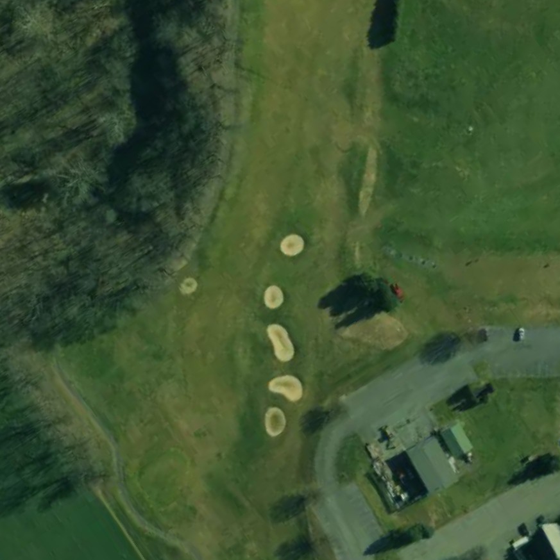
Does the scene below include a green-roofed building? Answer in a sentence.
Yes, looking at the shot, I can spot a green-roofed building.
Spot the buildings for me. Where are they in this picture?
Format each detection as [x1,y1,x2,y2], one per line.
[407,436,457,494]
[441,425,472,459]
[512,518,560,560]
